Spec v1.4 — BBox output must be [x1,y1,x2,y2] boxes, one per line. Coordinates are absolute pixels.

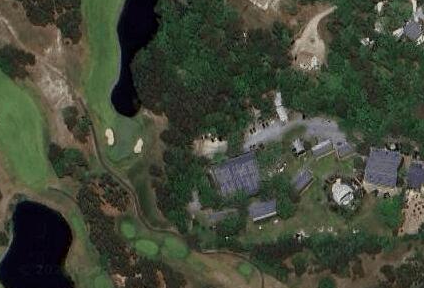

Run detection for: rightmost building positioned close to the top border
[393,0,424,44]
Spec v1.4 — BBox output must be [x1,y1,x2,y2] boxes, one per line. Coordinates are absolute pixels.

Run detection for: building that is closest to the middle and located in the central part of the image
[209,148,263,197]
